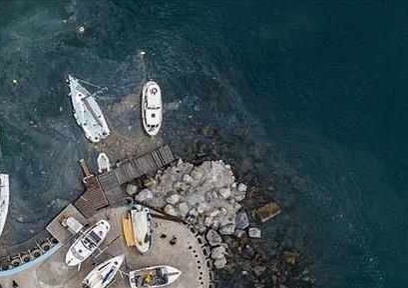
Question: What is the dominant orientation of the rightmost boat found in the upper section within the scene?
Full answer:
The rightmost boat found in the upper section runs from top to bottom in the image.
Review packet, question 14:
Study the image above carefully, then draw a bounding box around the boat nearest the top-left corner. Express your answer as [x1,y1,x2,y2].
[66,77,107,144]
